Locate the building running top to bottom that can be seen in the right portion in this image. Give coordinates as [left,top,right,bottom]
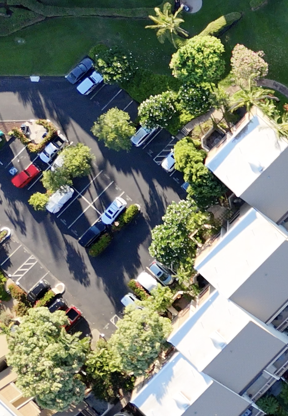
[129,111,288,416]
